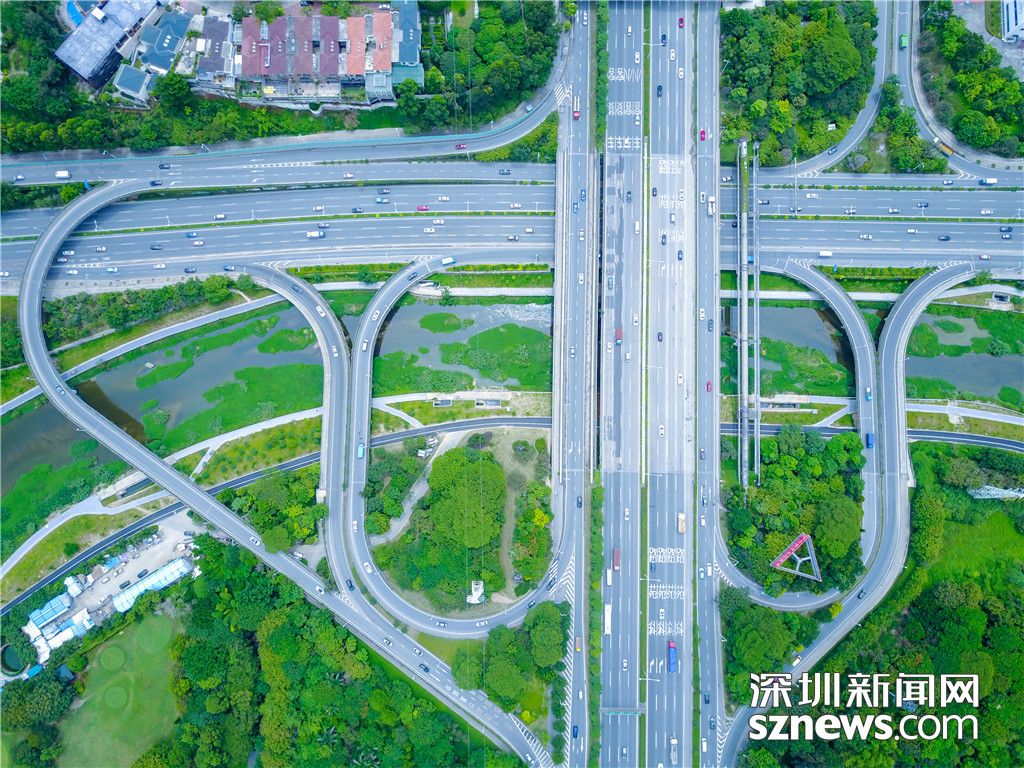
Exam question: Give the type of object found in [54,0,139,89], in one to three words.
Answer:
building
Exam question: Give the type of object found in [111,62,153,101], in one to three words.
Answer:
house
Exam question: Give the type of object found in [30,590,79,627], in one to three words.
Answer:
shed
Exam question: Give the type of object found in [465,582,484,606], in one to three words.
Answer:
pylon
